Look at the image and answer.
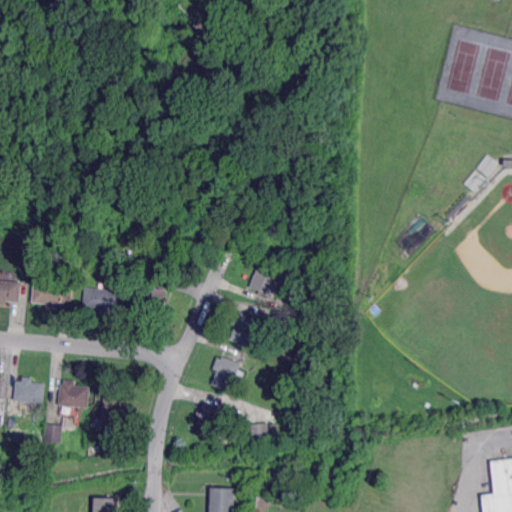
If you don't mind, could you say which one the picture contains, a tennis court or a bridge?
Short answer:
tennis court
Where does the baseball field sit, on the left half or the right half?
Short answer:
right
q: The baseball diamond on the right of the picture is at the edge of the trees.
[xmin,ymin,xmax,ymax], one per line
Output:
[366,175,512,405]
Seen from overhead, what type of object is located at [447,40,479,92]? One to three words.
tennis court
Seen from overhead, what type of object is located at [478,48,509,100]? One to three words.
tennis court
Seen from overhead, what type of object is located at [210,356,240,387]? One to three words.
house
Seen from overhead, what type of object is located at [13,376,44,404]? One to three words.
house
